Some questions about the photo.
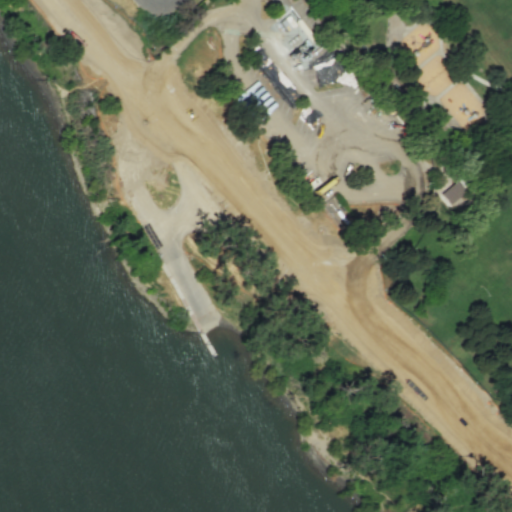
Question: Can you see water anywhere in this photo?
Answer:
Yes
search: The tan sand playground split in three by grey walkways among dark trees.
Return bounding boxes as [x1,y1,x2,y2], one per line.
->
[404,24,486,127]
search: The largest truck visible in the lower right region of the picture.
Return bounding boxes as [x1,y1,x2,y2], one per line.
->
[406,378,429,400]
